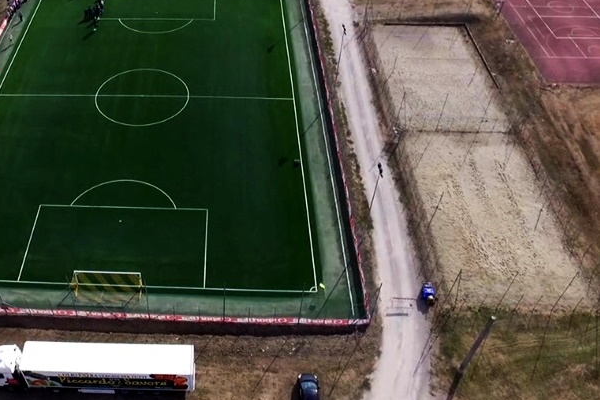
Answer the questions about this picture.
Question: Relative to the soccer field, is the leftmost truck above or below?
below it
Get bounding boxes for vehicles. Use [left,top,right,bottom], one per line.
[0,343,194,396]
[295,374,323,400]
[418,283,440,309]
